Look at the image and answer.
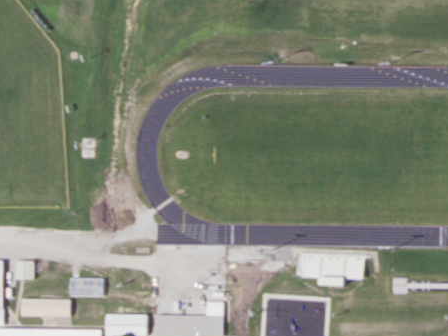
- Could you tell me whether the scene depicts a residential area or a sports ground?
sports ground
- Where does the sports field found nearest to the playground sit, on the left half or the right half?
right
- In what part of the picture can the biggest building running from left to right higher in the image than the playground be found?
bottom right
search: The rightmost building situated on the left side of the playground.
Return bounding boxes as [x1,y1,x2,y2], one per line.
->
[154,302,224,336]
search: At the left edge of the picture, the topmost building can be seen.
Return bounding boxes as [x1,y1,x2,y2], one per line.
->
[15,261,34,281]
